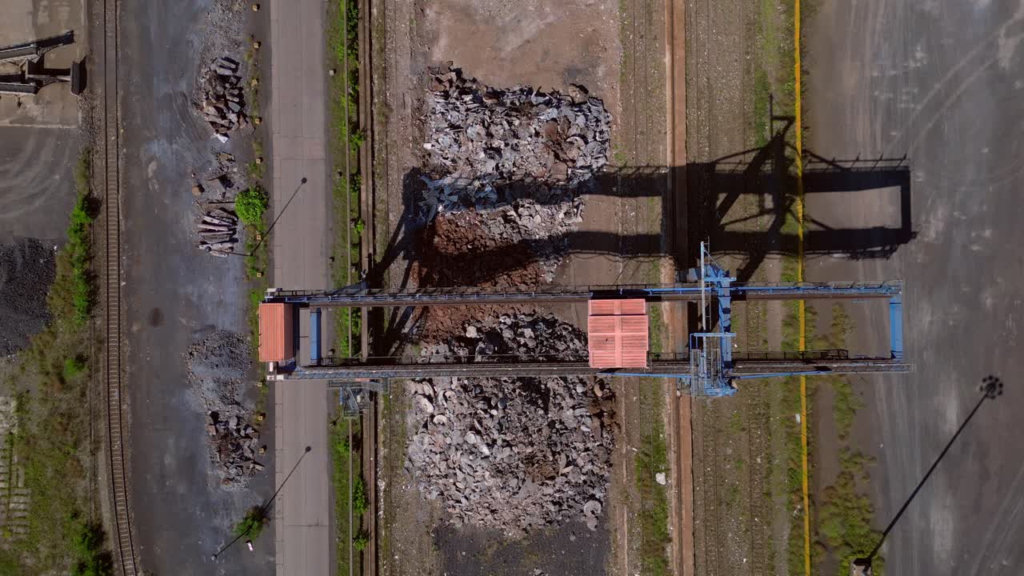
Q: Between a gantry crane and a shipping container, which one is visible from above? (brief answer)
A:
gantry crane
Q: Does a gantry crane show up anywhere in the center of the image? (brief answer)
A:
Yes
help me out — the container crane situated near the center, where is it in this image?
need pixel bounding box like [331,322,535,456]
[254,236,916,426]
